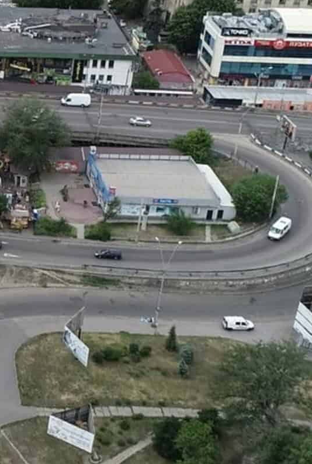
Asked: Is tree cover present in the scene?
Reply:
Yes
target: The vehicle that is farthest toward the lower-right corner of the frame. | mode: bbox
[223,313,252,330]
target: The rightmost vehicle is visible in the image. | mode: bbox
[271,217,289,236]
